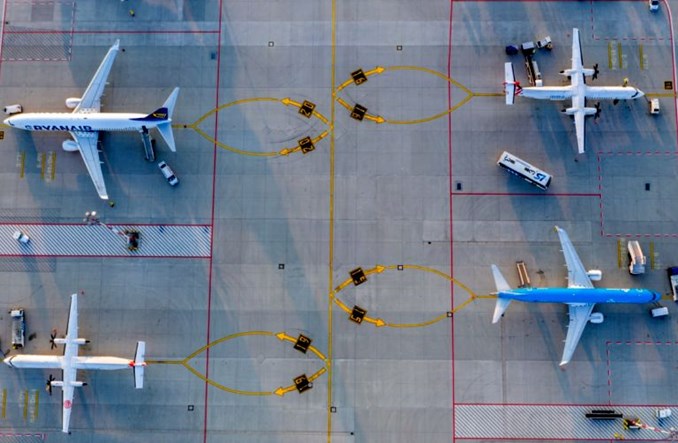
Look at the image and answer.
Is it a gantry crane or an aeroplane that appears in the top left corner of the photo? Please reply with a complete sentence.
There is an aeroplane in the top left corner of the photo.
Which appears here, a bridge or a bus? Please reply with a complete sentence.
Looking from above, you can make out a bus.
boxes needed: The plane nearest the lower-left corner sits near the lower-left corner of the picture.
[5,296,152,432]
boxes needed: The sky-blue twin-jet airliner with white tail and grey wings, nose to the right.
[490,225,660,365]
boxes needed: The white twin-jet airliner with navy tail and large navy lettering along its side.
[5,39,179,199]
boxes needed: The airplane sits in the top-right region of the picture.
[503,31,644,154]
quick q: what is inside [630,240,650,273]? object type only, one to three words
vehicle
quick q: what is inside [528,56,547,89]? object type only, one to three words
work vehicle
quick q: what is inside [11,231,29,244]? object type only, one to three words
vehicle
